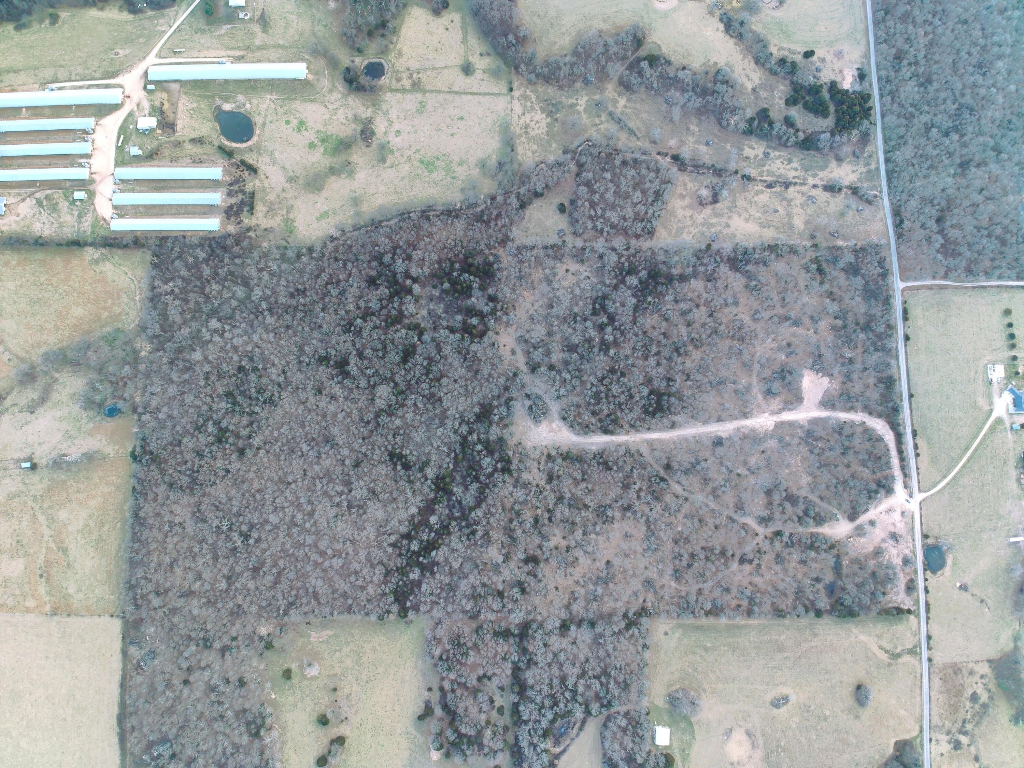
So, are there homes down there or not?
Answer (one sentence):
Yes, you can see a home in this photo.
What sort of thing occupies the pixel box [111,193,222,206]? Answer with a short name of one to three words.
house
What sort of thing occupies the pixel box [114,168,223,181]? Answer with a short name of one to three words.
house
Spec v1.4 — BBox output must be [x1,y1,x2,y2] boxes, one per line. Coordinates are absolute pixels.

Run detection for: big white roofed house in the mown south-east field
[653,722,670,745]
